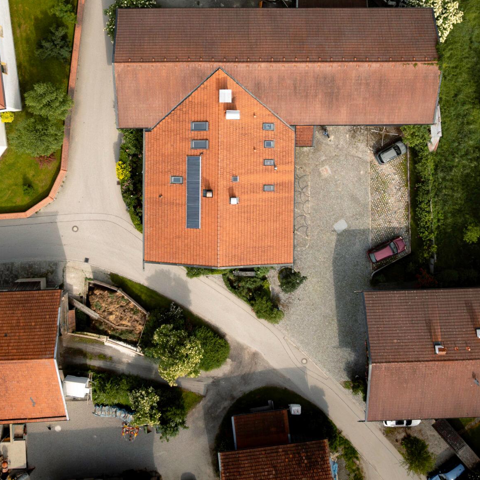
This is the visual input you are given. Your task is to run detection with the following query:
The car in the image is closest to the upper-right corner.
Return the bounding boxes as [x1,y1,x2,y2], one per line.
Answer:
[371,139,410,167]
